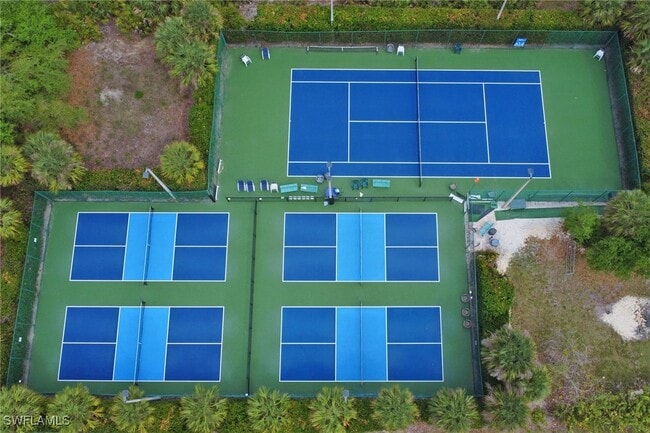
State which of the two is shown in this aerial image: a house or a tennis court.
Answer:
tennis court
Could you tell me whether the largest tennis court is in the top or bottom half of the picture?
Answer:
top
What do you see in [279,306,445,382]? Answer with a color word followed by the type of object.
blue sports court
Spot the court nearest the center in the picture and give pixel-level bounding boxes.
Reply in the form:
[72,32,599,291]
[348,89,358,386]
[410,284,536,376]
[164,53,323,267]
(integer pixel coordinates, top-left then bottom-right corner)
[282,213,440,281]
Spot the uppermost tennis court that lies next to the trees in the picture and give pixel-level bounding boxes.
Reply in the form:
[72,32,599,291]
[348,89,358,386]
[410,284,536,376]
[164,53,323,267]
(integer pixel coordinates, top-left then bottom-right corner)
[218,48,621,202]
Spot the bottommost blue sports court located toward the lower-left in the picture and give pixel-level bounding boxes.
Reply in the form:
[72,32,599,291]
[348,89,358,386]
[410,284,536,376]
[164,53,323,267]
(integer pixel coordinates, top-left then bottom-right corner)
[56,306,224,381]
